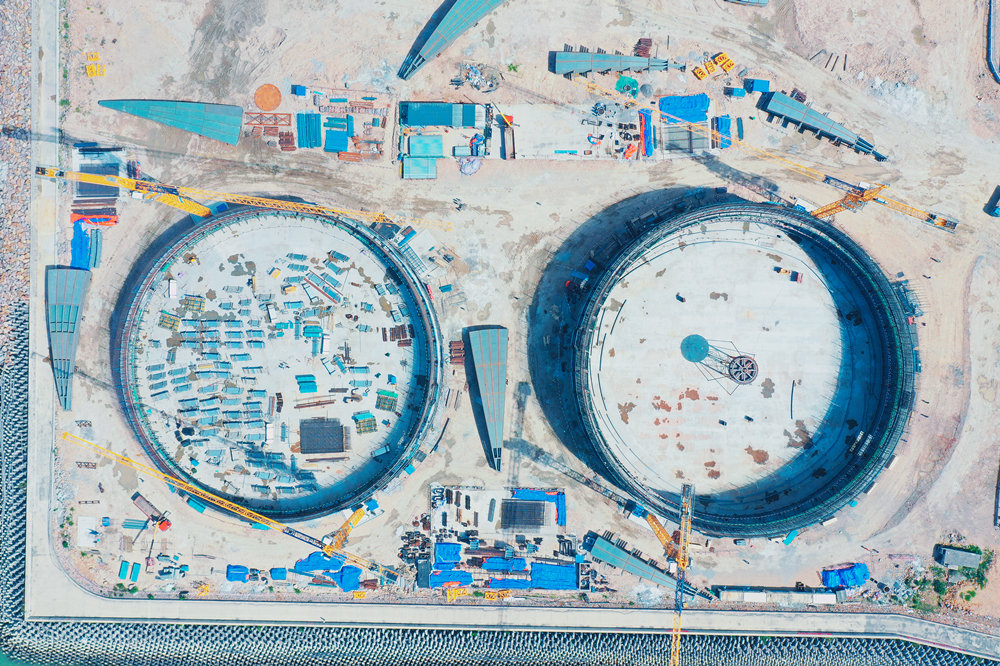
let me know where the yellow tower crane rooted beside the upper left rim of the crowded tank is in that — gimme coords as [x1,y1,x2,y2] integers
[36,162,454,229]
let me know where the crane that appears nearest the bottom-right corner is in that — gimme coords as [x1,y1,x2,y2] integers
[635,483,698,666]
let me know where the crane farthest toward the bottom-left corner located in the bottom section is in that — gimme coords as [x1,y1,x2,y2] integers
[58,432,399,586]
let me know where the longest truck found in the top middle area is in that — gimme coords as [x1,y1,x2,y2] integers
[488,95,516,155]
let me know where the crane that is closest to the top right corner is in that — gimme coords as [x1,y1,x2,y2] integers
[573,70,961,228]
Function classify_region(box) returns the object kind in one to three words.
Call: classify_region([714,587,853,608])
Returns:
shed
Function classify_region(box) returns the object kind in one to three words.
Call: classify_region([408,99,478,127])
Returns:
shed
